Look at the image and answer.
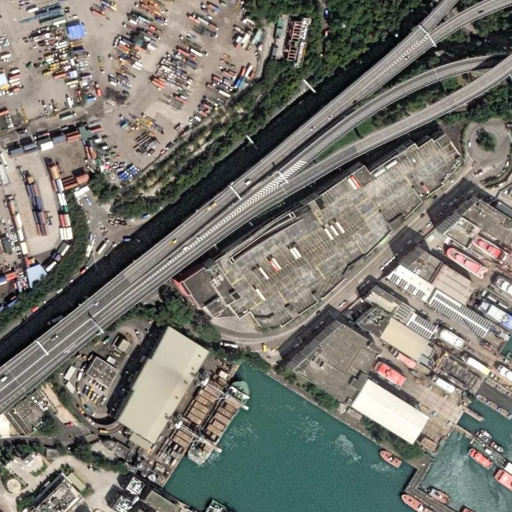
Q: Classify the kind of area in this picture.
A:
port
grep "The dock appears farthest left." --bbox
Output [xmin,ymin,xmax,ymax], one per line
[404,462,456,512]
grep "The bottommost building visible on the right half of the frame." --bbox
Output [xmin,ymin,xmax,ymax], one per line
[348,378,430,444]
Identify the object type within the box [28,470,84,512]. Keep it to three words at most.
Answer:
building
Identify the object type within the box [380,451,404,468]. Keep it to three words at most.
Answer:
boat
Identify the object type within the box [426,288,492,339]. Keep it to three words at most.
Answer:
shed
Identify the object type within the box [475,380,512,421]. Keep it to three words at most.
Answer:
pier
